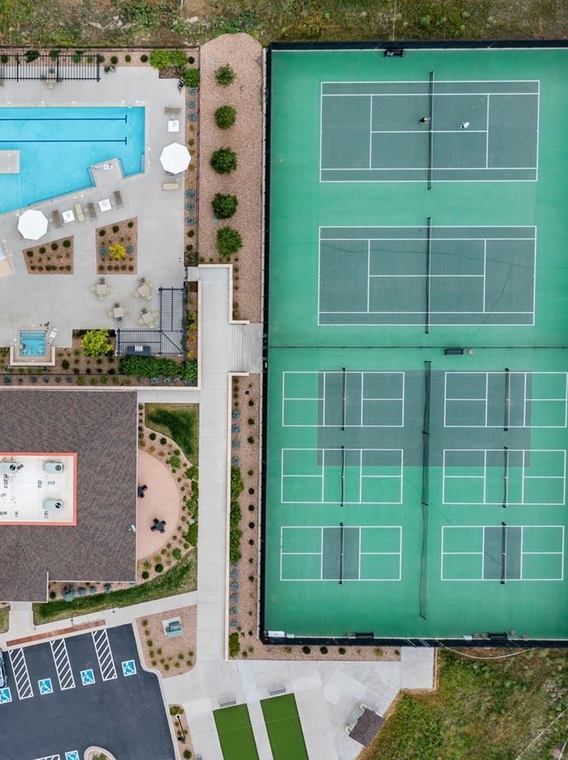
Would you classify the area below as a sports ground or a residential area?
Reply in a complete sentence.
It's a sports ground.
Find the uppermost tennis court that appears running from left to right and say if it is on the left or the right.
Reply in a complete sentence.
It is on the right.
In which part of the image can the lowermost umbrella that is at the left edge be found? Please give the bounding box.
[18,210,47,239]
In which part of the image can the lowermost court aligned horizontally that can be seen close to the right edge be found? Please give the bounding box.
[441,525,564,581]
